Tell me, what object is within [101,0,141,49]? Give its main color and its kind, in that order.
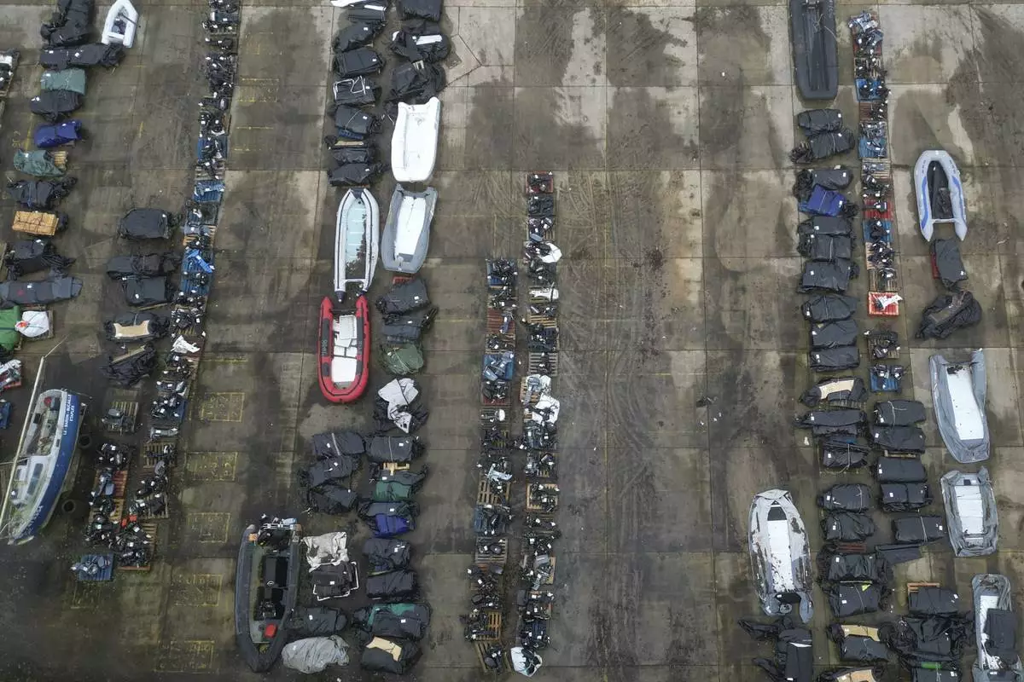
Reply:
white boat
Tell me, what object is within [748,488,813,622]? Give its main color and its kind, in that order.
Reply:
white boat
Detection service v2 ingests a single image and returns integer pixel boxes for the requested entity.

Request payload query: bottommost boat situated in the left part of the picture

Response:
[361,638,426,678]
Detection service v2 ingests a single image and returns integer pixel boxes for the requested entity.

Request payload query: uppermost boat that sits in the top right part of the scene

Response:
[790,0,838,99]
